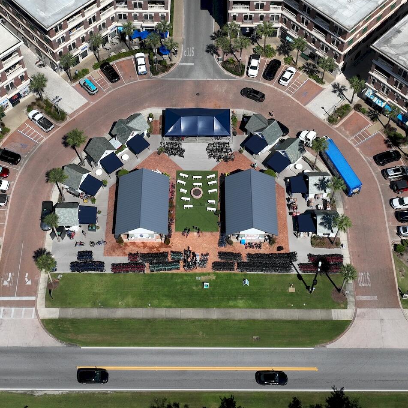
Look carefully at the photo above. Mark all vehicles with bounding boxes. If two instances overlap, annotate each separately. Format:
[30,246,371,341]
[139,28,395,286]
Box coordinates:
[390,196,408,210]
[255,370,288,386]
[280,124,295,142]
[0,180,11,193]
[373,150,402,166]
[135,54,148,75]
[264,58,281,81]
[27,109,55,133]
[280,66,295,87]
[78,77,99,97]
[39,201,52,231]
[99,60,122,84]
[0,150,23,166]
[248,54,259,78]
[395,211,408,224]
[77,368,110,384]
[294,131,322,149]
[0,166,11,180]
[390,179,408,193]
[0,195,8,207]
[382,165,408,180]
[397,226,408,237]
[240,87,266,105]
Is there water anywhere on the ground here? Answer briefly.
No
